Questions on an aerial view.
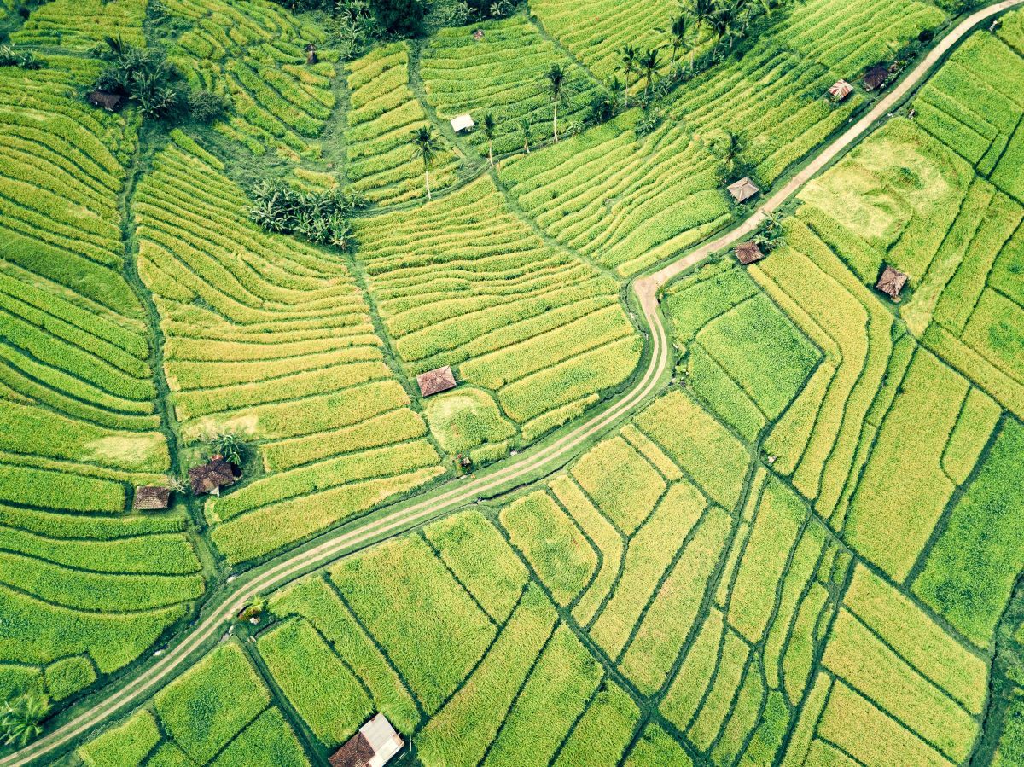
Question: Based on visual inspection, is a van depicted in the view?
No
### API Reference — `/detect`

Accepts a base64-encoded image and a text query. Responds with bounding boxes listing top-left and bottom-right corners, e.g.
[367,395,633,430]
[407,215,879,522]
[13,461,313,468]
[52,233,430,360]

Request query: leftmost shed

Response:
[89,88,123,115]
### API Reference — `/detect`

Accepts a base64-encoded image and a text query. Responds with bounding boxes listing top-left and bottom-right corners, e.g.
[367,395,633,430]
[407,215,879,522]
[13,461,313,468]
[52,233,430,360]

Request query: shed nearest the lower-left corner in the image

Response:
[133,487,170,512]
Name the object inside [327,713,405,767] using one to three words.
house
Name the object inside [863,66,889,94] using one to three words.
shed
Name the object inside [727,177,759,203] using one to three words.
shed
